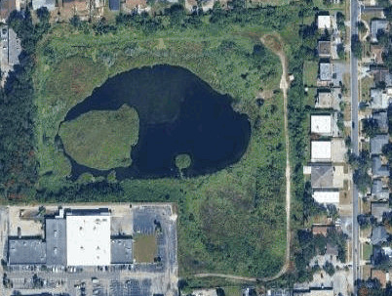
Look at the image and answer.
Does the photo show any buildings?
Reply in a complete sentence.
Yes, there's a building down there.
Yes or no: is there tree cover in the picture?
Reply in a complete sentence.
Yes, the picture does contain tree cover.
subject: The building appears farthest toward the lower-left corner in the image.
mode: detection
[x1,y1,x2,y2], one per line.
[8,239,47,264]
